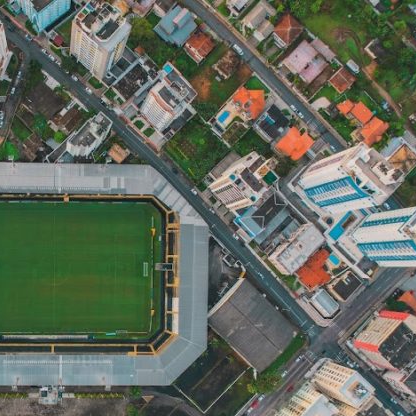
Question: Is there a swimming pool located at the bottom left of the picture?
No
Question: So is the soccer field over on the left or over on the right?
left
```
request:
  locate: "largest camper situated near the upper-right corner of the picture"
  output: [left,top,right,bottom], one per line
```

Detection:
[346,57,363,73]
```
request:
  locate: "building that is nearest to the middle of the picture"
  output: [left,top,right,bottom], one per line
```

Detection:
[203,191,239,231]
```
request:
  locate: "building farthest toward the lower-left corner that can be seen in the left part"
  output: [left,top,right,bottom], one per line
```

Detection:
[40,386,62,404]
